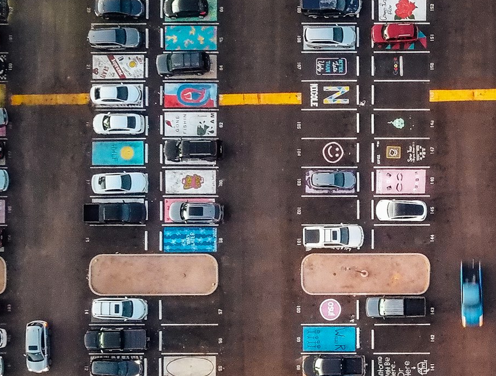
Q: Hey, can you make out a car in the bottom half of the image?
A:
Yes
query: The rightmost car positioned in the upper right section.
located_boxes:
[371,18,418,44]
